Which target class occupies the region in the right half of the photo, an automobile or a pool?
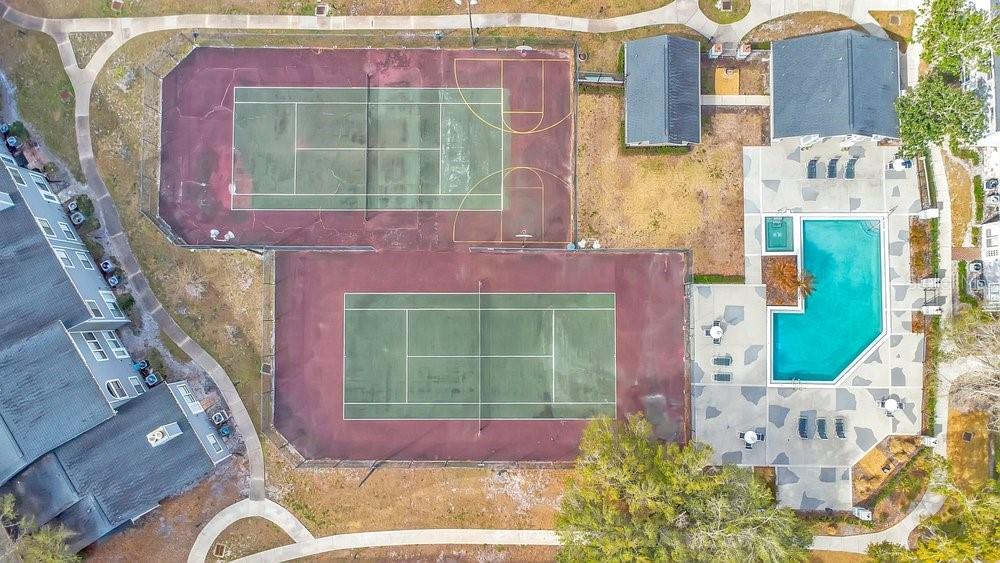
pool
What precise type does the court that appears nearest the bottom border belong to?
tennis court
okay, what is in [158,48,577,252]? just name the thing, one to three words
tennis court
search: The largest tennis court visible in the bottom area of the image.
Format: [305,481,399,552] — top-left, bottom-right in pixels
[272,250,690,462]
